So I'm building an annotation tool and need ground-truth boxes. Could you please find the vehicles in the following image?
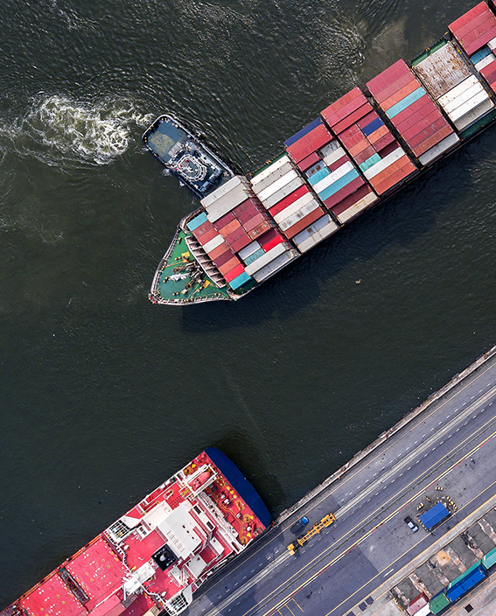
[403,517,420,533]
[290,516,310,535]
[285,510,339,557]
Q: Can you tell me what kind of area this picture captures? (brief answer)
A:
port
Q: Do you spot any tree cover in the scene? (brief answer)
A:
No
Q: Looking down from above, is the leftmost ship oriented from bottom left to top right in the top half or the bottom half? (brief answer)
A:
bottom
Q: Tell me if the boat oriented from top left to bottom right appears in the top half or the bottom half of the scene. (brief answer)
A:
top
